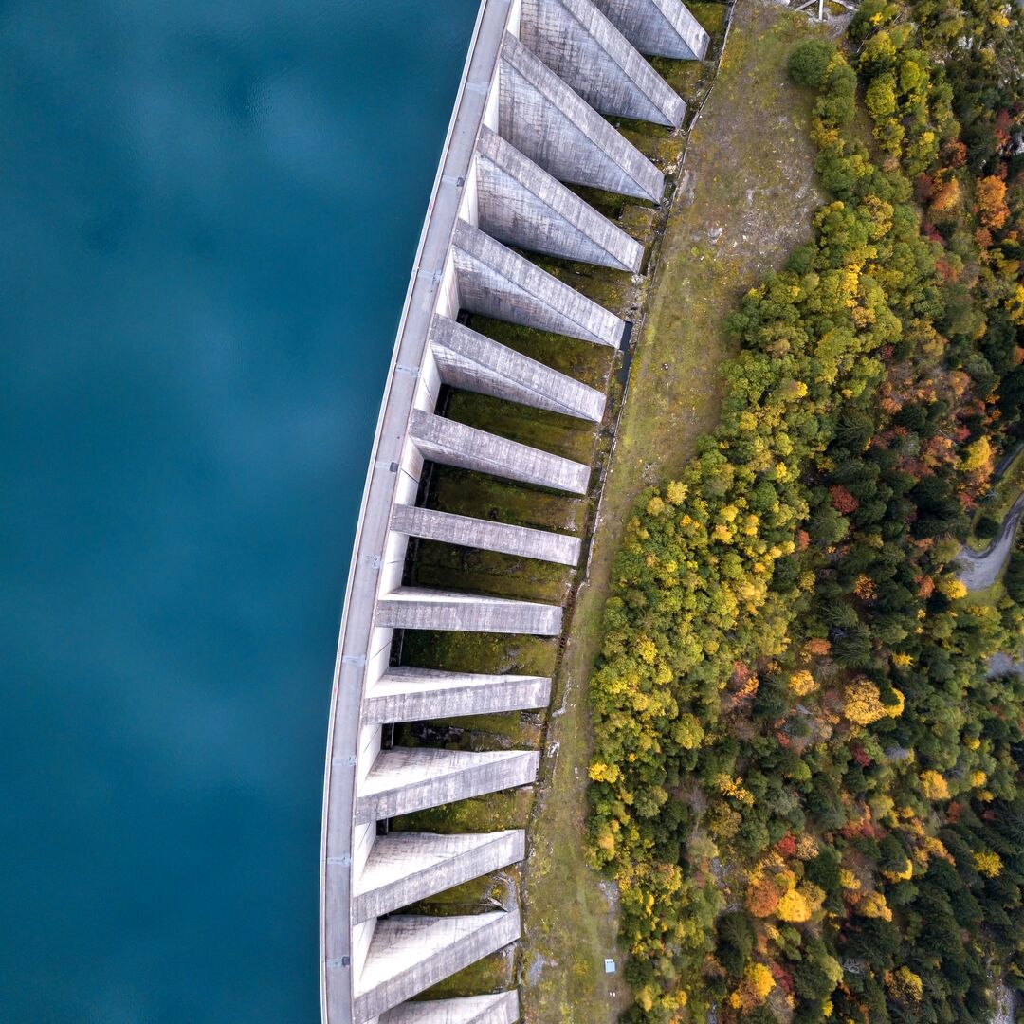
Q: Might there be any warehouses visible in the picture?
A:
No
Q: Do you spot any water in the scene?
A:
Yes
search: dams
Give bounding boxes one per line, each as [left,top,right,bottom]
[320,0,712,1024]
